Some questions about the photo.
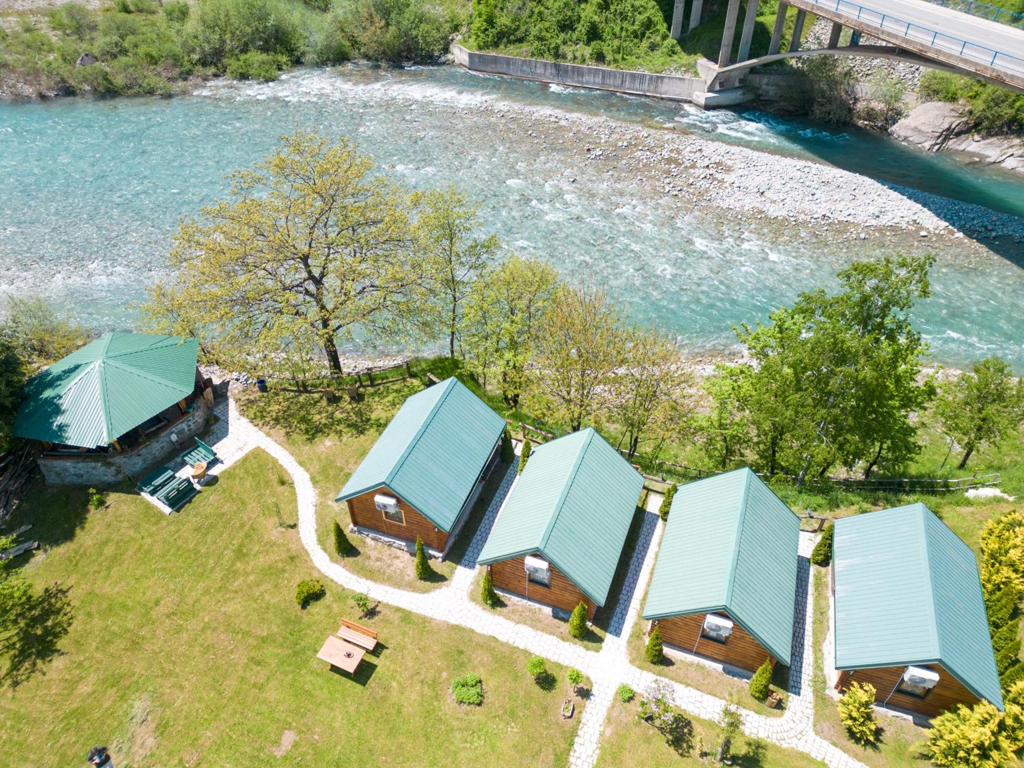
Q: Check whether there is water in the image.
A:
Yes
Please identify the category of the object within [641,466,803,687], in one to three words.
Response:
building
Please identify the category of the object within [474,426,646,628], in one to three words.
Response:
building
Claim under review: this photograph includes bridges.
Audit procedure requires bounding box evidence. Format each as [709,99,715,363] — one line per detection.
[681,0,1024,114]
